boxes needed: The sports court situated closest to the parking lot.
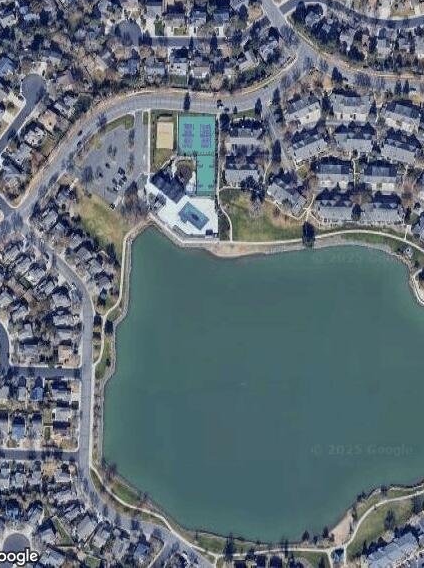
[156,122,173,148]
